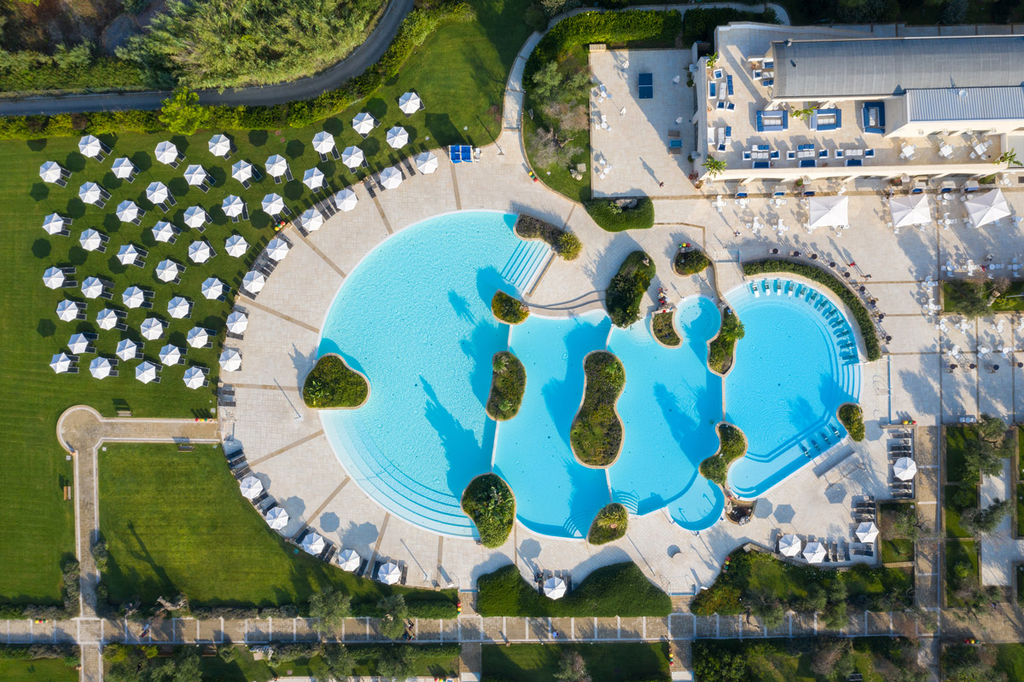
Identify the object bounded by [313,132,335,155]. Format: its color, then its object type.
white umbrella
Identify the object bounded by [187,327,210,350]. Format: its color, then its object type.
white umbrella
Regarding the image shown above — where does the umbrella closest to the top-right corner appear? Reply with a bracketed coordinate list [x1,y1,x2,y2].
[963,188,1011,228]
